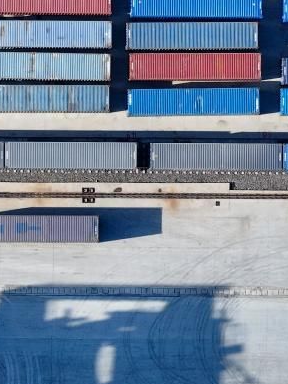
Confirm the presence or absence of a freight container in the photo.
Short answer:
Yes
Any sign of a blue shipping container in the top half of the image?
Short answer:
Yes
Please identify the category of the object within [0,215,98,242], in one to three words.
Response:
shipping container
